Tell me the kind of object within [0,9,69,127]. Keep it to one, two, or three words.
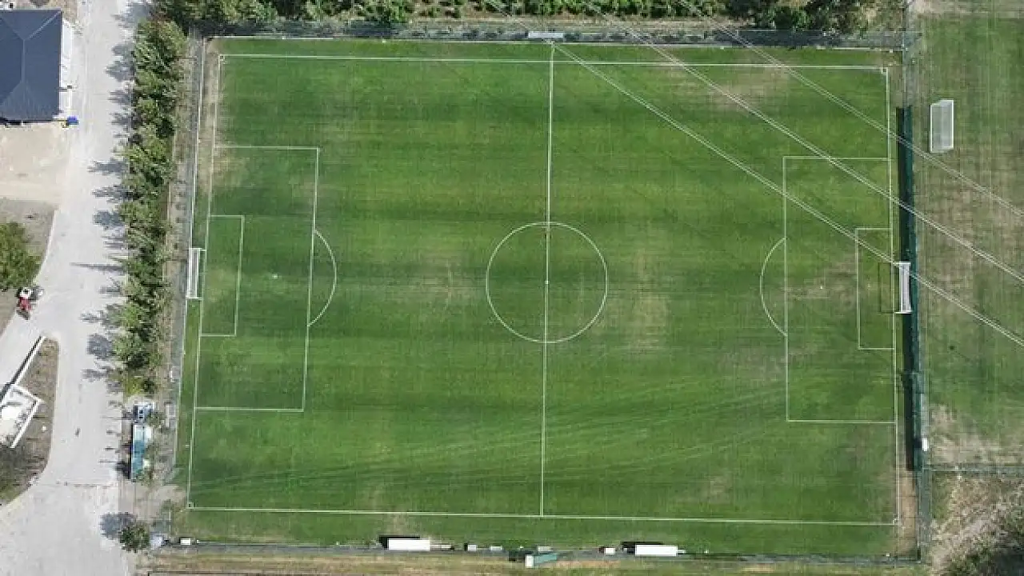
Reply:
house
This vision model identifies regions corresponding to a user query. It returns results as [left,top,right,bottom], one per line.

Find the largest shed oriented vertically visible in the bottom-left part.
[129,423,159,479]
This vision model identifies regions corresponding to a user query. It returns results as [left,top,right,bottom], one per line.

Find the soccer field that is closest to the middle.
[173,37,918,557]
